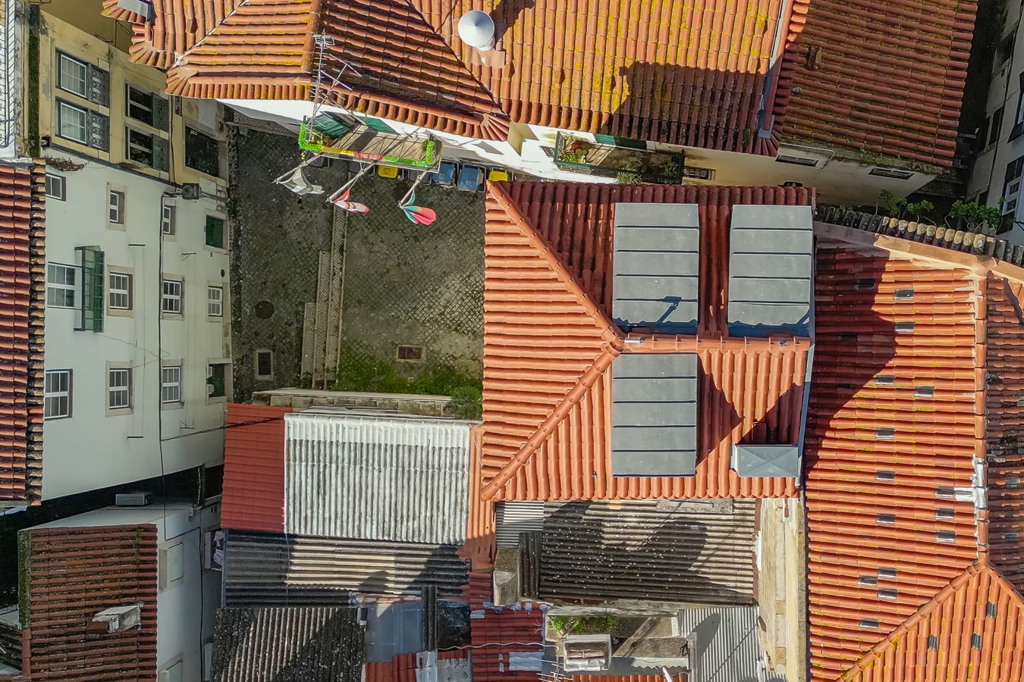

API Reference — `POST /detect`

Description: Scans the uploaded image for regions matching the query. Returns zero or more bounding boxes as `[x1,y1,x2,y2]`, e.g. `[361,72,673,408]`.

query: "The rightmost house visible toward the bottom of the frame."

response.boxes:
[804,207,1024,682]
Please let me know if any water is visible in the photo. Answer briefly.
No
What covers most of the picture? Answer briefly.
buildings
